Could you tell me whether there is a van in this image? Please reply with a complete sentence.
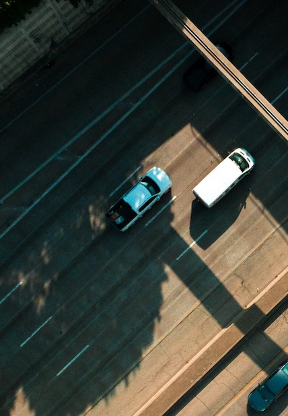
Yes, there's a van down there.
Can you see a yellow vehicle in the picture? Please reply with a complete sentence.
No, the picture doesn't show any yellow vehicle.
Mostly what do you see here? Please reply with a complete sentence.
The largest share of the image is taken up by paved ground.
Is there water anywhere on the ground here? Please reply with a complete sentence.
No, there is no water in the image.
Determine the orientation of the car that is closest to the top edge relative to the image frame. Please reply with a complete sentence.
In this picture, the car that is closest to the top edge is oriented diagonally.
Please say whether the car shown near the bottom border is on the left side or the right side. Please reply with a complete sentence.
The car shown near the bottom border sits on the right side.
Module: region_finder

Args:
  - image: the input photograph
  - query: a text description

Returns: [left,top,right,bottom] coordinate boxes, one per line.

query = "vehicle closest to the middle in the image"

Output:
[105,170,170,232]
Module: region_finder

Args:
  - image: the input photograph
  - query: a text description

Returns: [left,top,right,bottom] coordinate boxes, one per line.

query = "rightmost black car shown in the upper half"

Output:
[180,41,234,94]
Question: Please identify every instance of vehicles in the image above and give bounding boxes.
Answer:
[193,151,254,210]
[180,41,234,94]
[252,356,288,411]
[105,170,170,232]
